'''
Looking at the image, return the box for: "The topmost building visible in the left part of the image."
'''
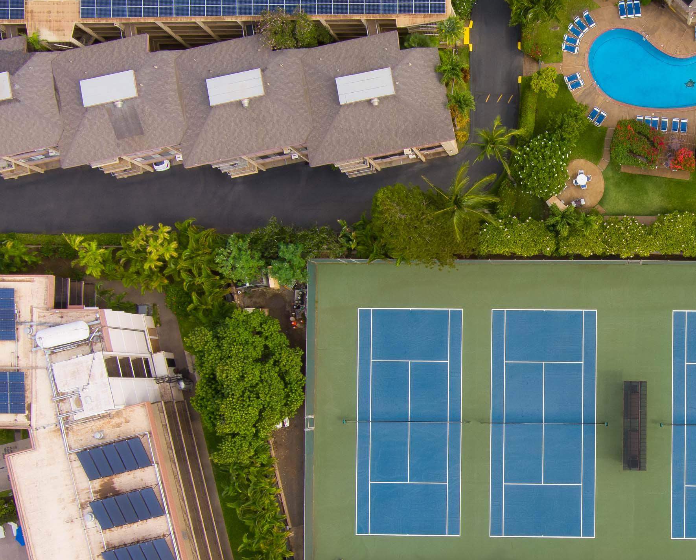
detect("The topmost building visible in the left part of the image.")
[0,31,458,180]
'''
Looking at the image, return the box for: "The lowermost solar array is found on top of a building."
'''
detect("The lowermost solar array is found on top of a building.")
[0,371,29,414]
